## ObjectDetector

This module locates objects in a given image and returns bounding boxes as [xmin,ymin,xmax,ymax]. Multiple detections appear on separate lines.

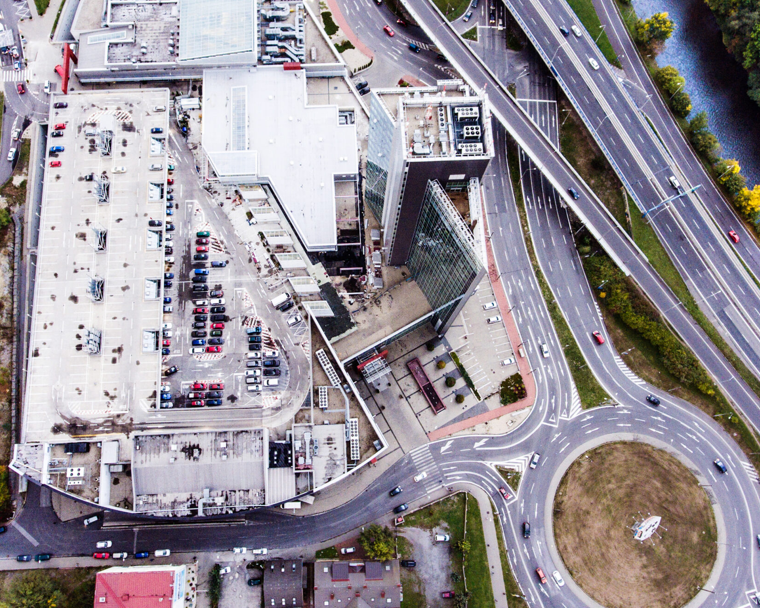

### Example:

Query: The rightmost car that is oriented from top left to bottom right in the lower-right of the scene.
[714,458,728,474]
